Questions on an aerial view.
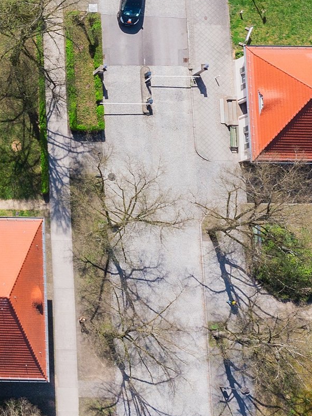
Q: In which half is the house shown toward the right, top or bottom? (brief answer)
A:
top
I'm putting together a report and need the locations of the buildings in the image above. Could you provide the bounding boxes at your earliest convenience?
[214,45,312,168]
[0,215,52,384]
